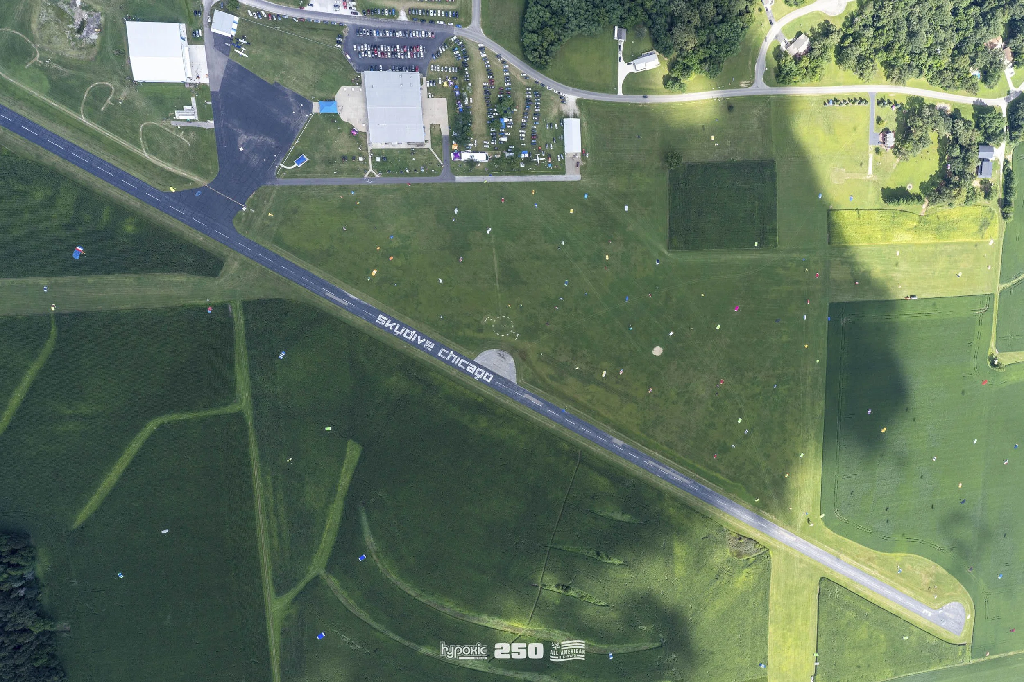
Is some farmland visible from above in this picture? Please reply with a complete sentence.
Yes, some farmland is visible.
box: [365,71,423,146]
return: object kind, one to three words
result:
building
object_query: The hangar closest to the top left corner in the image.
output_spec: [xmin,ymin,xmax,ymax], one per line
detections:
[126,21,196,84]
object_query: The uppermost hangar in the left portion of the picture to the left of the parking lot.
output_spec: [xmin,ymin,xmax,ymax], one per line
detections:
[205,9,244,39]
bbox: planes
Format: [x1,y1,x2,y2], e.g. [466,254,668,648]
[234,33,250,45]
[233,47,247,58]
[230,39,241,49]
[532,152,546,165]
